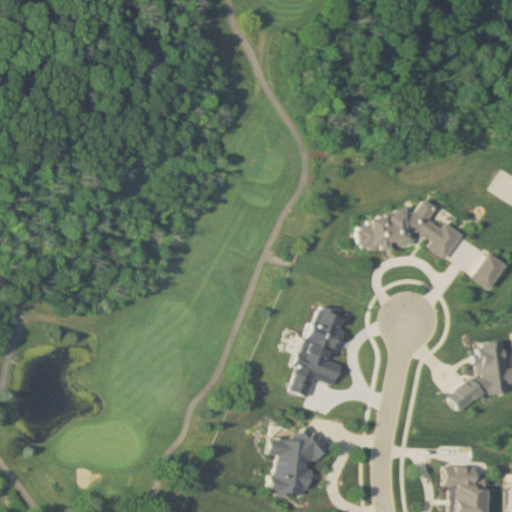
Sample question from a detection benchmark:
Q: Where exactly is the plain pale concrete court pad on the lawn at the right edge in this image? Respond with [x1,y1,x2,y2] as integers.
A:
[486,171,512,218]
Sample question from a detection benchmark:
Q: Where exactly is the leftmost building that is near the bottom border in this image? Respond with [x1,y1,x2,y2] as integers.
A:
[264,426,327,496]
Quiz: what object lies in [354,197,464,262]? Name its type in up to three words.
house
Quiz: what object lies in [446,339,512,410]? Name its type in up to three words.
house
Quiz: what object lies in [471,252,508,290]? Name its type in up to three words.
building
